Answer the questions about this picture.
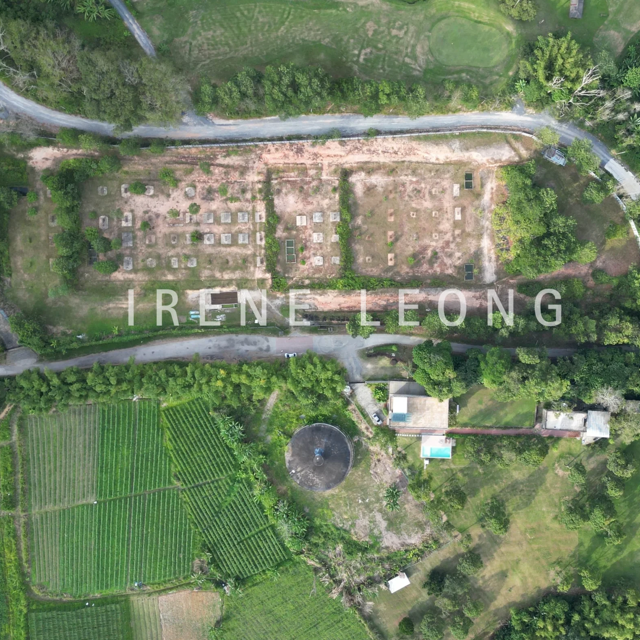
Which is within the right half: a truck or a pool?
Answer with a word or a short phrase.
pool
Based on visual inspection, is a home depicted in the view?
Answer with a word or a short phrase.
Yes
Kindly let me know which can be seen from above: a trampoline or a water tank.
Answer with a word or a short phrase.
water tank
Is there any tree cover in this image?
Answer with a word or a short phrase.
Yes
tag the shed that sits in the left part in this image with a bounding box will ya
[211,292,238,304]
